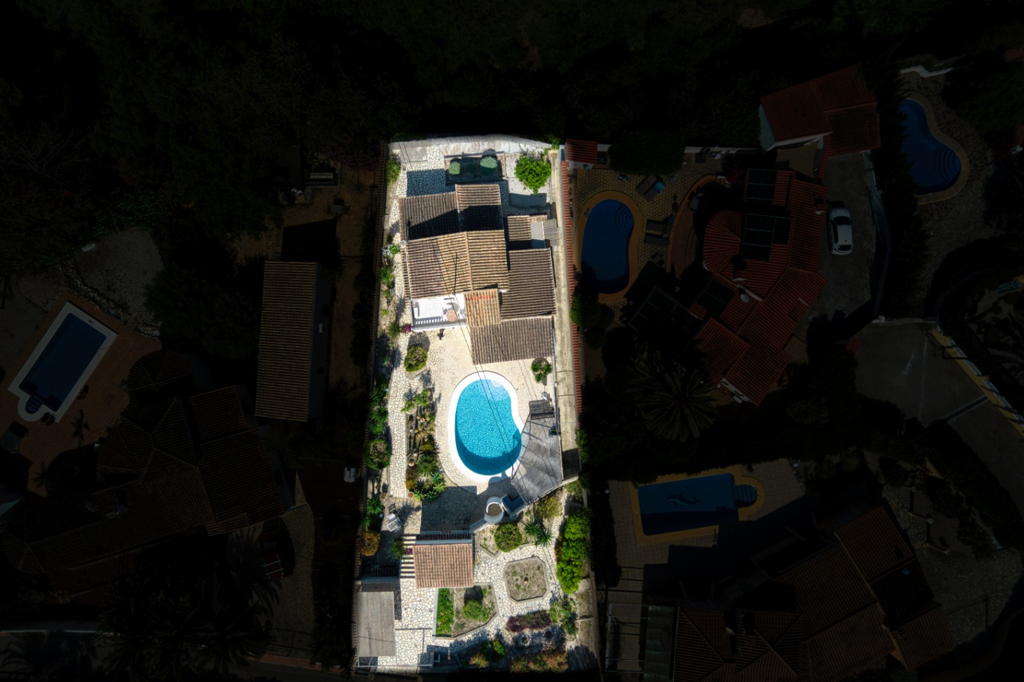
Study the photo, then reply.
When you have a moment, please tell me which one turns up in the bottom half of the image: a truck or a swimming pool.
swimming pool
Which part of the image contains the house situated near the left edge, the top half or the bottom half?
bottom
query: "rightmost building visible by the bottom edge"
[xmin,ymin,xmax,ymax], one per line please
[670,501,956,682]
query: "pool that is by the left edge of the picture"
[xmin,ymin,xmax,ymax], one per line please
[7,302,115,423]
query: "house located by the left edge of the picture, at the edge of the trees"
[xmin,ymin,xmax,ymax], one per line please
[0,350,296,574]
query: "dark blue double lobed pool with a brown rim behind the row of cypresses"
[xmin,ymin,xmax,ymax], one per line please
[883,91,971,204]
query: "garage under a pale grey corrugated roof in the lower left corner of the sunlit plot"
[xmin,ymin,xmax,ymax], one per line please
[357,560,405,657]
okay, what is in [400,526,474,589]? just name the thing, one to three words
building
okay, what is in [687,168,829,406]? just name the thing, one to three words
house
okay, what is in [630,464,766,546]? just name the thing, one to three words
swimming pool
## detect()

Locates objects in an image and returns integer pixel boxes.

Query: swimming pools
[883,91,971,204]
[448,371,529,483]
[630,464,766,546]
[574,190,643,303]
[7,302,115,423]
